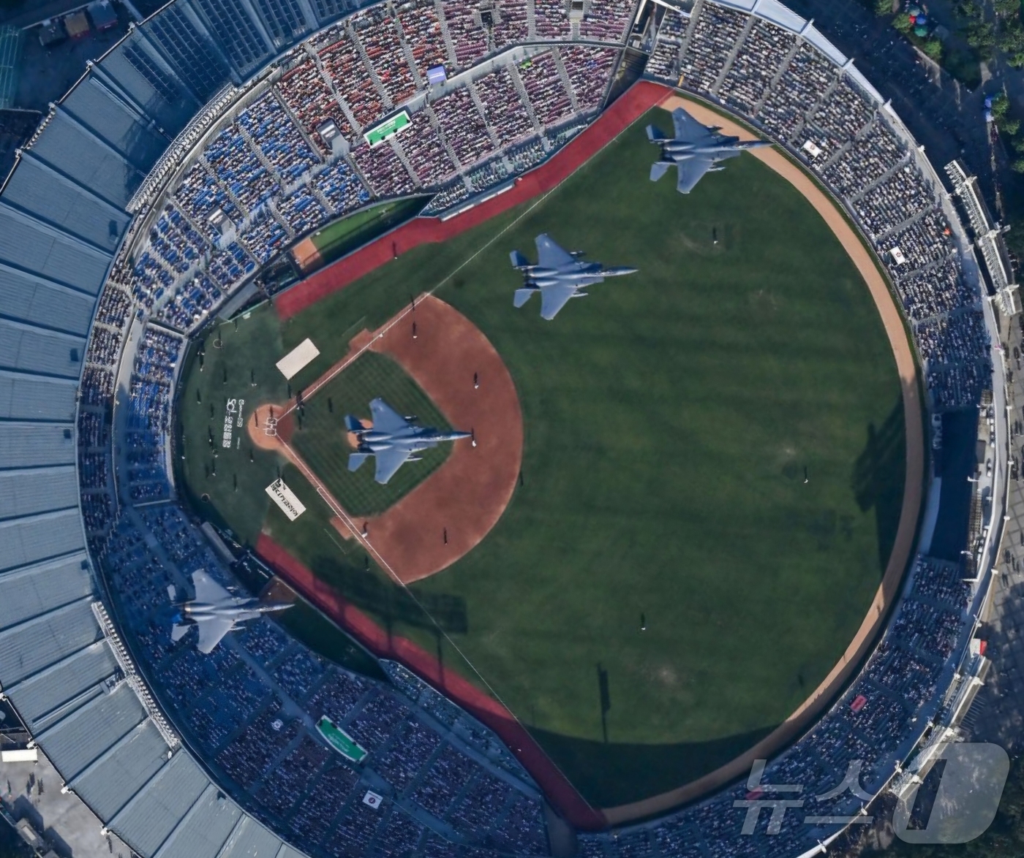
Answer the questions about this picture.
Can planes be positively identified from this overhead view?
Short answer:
Yes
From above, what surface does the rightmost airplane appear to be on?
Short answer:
grass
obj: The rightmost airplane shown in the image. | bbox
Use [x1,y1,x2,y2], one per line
[644,108,771,194]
